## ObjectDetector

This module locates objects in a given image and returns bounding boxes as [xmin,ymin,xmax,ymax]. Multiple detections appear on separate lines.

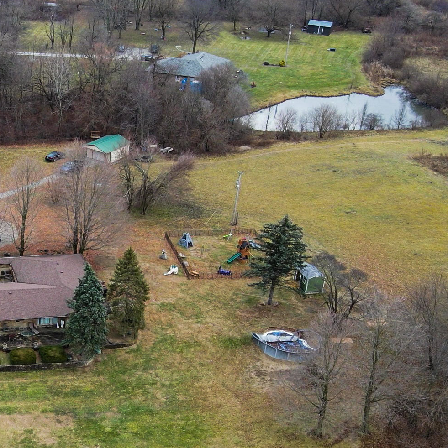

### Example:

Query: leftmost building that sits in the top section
[84,129,133,163]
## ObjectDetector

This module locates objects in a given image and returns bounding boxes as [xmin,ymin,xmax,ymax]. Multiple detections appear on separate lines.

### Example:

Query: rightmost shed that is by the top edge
[308,19,334,35]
